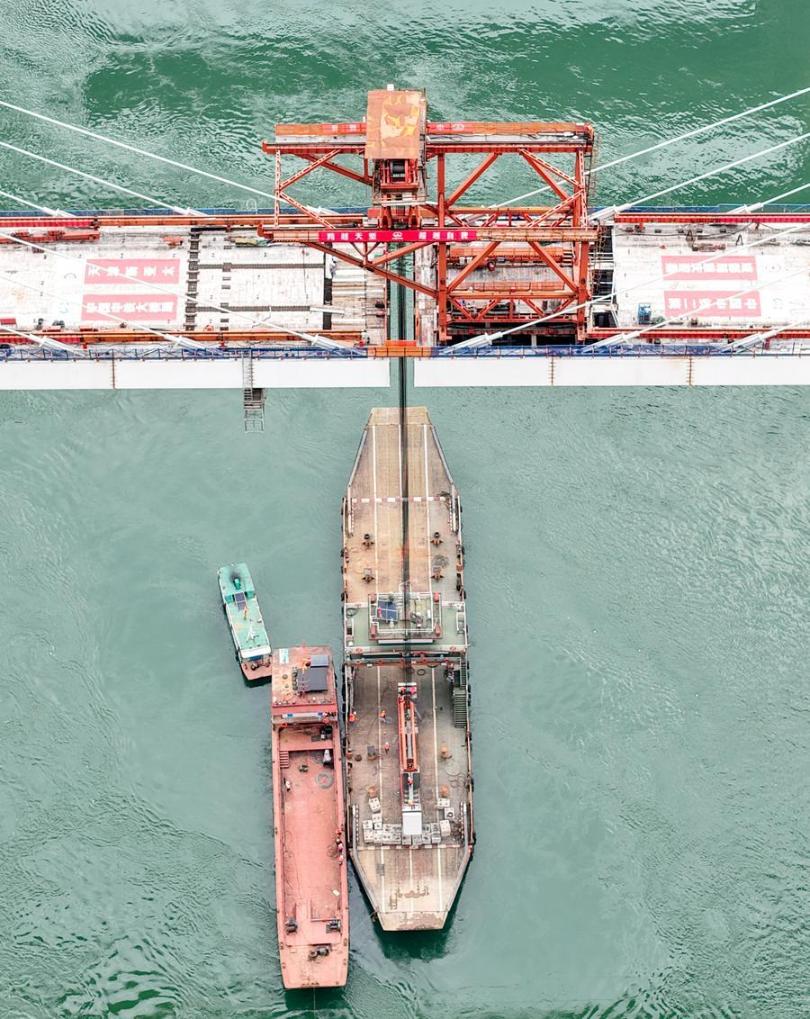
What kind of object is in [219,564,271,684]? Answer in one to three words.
boat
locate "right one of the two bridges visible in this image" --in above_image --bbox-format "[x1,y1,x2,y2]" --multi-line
[415,84,810,388]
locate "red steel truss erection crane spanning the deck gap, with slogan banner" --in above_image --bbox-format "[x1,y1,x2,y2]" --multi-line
[254,116,614,340]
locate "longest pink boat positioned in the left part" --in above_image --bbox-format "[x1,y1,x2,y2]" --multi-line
[270,637,347,1018]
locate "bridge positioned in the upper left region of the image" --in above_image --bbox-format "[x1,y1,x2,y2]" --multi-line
[0,99,390,388]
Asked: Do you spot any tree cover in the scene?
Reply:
No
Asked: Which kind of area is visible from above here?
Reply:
port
